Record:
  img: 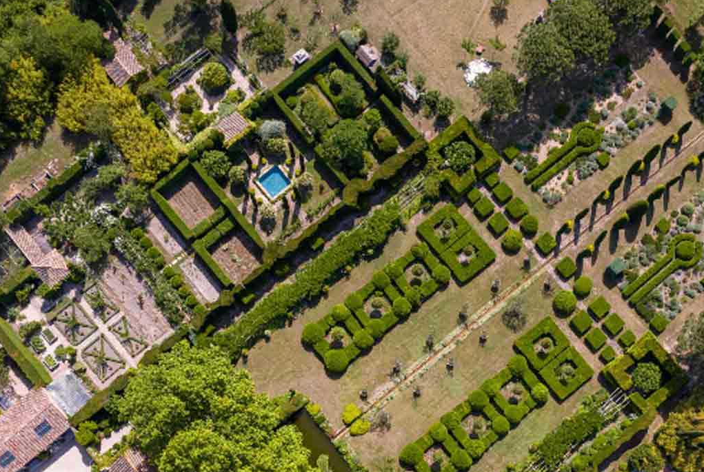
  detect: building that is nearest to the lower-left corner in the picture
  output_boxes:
[0,388,75,472]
